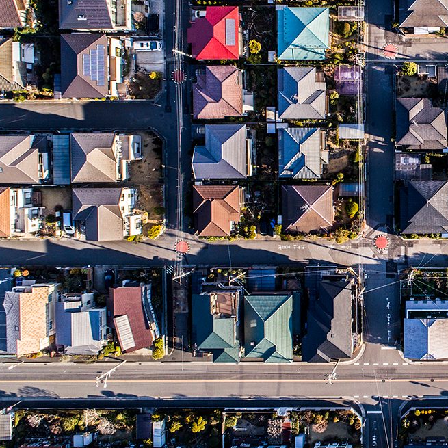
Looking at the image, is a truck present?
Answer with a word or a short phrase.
No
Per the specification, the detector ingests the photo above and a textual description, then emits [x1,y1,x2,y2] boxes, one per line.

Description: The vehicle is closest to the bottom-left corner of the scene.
[101,264,114,291]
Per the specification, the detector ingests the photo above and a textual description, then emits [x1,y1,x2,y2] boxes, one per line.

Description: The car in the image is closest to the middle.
[187,125,205,137]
